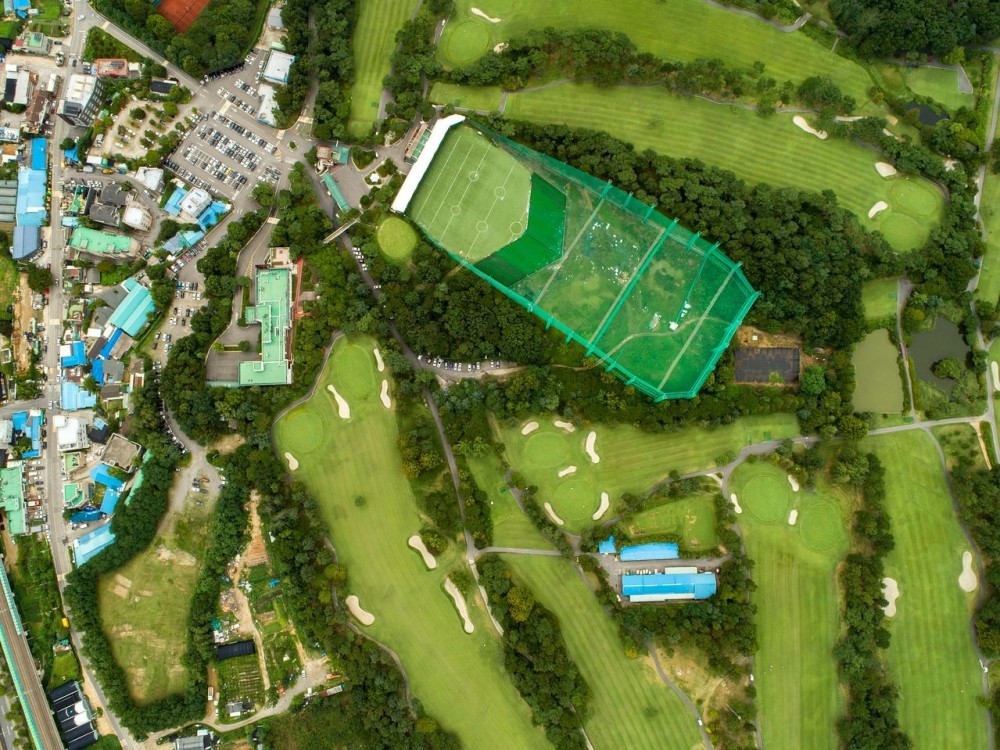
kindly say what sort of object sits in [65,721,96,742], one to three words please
greenhouse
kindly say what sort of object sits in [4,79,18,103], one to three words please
solar panel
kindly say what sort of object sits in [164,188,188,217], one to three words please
house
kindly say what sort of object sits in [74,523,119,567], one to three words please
building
